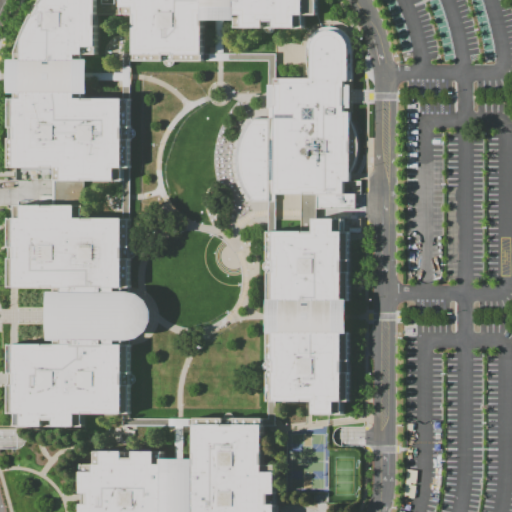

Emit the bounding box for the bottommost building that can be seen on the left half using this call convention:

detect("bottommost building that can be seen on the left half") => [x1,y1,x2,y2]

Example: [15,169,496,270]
[76,414,277,512]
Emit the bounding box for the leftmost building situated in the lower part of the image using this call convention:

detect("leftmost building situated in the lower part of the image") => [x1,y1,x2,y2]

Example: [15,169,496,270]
[5,205,154,427]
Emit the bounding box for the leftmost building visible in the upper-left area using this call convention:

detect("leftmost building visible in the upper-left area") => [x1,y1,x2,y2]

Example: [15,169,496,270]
[4,0,130,201]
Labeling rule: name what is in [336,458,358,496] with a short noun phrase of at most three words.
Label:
sports court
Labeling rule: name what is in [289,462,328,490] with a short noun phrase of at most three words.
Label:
basketball court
